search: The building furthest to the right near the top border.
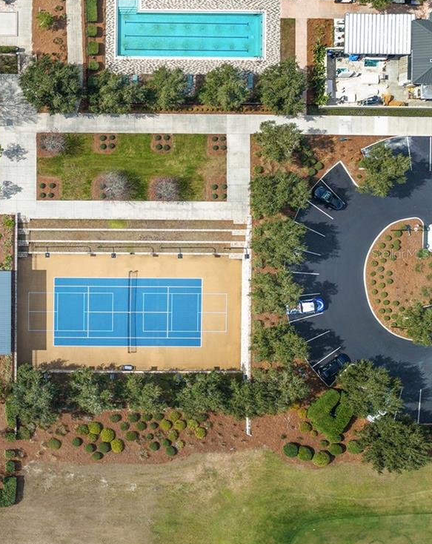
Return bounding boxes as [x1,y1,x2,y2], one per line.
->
[398,19,432,85]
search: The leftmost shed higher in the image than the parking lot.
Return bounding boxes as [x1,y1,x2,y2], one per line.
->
[335,14,412,59]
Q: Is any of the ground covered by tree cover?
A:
Yes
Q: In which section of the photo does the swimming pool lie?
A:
top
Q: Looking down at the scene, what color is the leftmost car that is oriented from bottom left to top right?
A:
black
